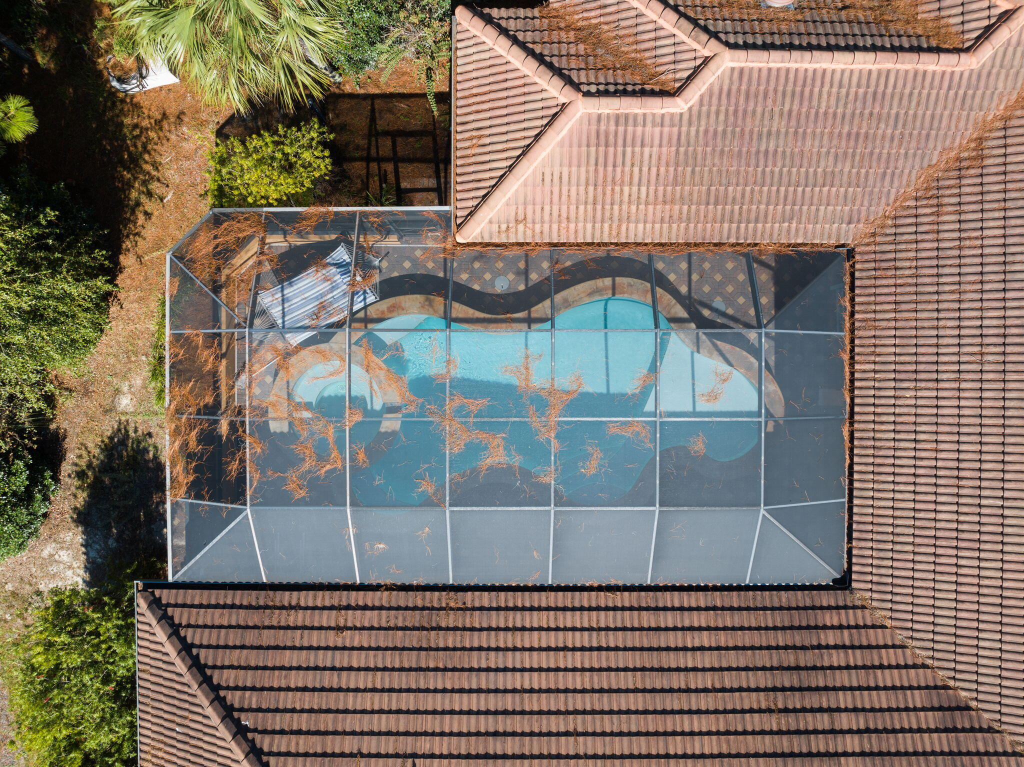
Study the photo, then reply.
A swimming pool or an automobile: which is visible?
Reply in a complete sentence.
Visible in the photo is a swimming pool.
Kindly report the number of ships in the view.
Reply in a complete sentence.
Not a single ship can be seen.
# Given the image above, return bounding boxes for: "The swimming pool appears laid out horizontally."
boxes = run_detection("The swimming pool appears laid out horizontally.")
[269,277,781,532]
